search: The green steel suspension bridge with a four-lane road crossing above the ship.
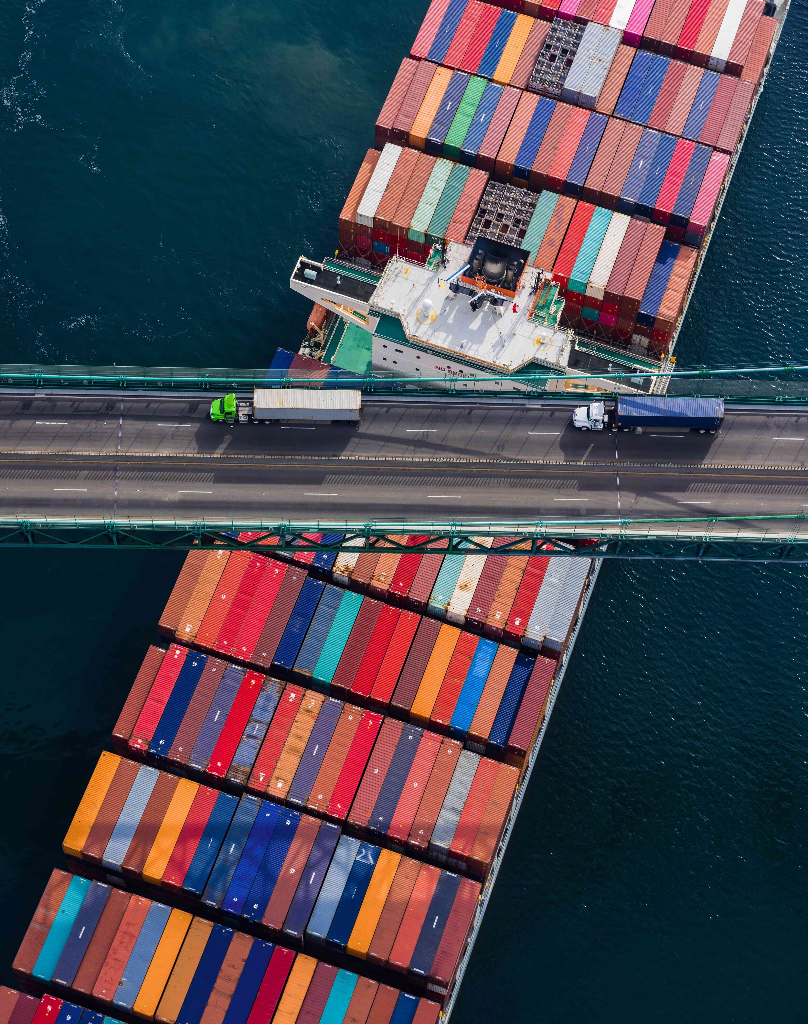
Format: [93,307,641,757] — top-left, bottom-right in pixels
[0,360,808,563]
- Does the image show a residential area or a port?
port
